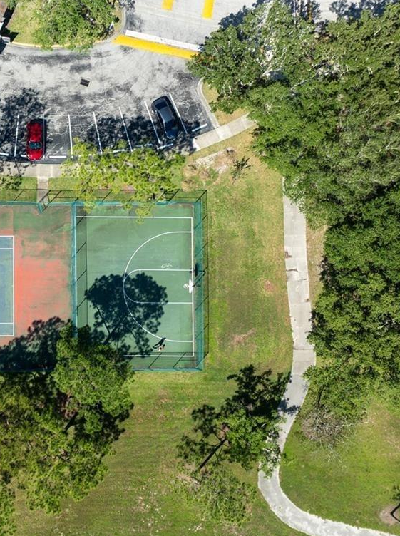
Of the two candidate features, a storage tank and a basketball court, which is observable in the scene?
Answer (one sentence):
Looking from above, you can make out a basketball court.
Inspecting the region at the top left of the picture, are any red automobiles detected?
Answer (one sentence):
Yes, looking at the top left of the picture, one can make out a red automobile.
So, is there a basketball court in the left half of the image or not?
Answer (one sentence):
Yes, you'll find a basketball court in the left half of the image.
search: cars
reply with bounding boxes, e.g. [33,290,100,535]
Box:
[26,118,47,160]
[152,92,181,139]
